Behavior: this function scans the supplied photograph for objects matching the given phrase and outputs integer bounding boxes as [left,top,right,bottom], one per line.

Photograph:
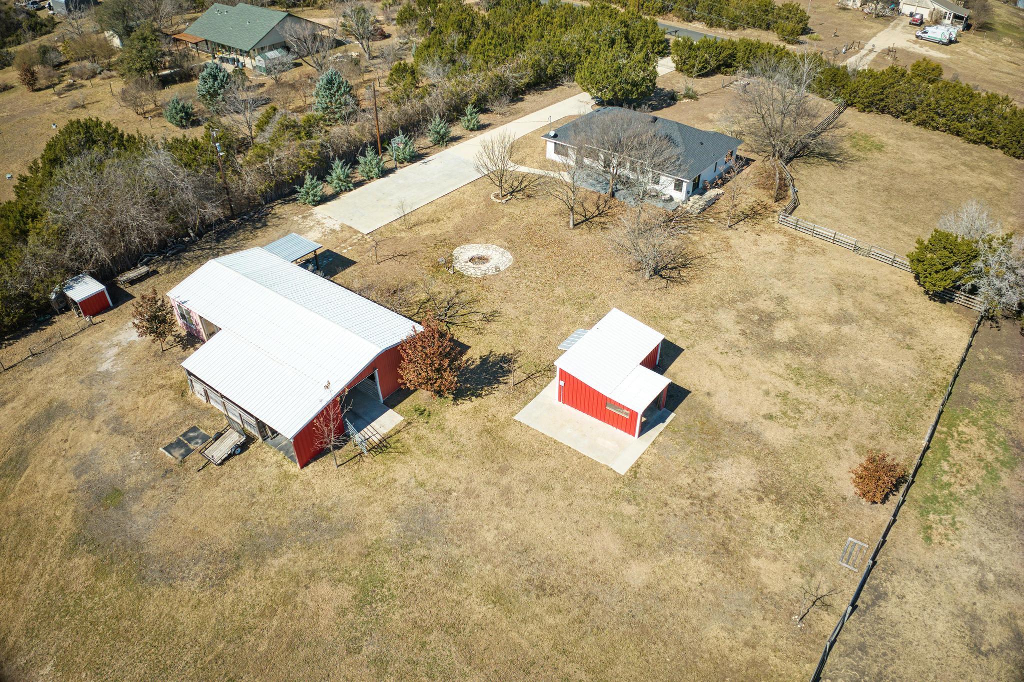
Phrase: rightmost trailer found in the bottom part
[189,415,247,479]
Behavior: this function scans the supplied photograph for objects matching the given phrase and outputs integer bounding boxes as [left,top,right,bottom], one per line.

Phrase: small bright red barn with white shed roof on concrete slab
[555,308,670,439]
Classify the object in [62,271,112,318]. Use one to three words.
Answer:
shed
